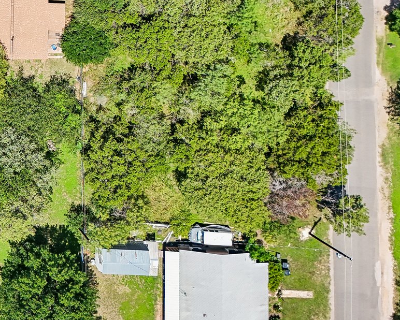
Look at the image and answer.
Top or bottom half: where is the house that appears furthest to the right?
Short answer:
bottom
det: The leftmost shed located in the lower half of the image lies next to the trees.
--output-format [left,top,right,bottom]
[92,243,150,275]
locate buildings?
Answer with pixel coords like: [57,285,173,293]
[92,243,150,275]
[0,0,65,59]
[159,245,269,320]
